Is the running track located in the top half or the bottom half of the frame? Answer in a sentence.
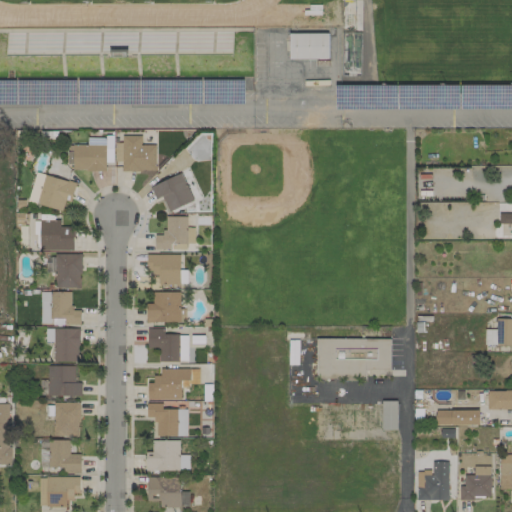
The running track is in the top half of the image.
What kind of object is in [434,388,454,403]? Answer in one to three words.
swimming pool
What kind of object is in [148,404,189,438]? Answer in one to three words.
house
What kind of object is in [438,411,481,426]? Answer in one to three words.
house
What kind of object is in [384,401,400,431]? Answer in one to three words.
building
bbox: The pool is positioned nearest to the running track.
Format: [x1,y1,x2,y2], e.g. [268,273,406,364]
[37,152,49,173]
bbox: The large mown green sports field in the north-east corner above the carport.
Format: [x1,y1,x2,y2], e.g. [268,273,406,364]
[376,0,512,80]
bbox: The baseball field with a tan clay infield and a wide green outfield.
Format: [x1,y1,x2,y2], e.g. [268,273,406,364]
[214,128,408,327]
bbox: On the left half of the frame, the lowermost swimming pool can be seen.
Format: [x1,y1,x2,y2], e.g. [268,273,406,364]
[192,301,206,320]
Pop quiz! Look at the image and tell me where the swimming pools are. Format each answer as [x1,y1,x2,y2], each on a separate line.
[434,388,454,403]
[37,152,49,173]
[192,301,206,320]
[21,256,32,278]
[194,266,206,285]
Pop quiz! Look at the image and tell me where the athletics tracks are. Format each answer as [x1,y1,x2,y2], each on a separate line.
[0,0,344,28]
